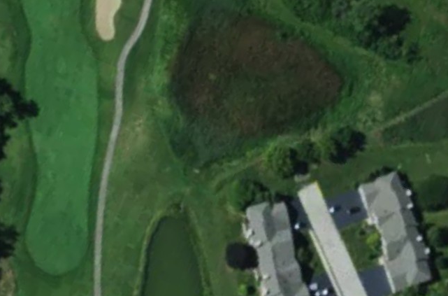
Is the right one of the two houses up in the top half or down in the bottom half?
bottom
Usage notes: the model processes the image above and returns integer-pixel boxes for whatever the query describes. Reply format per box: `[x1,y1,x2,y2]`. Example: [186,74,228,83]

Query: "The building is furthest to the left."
[245,200,310,296]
